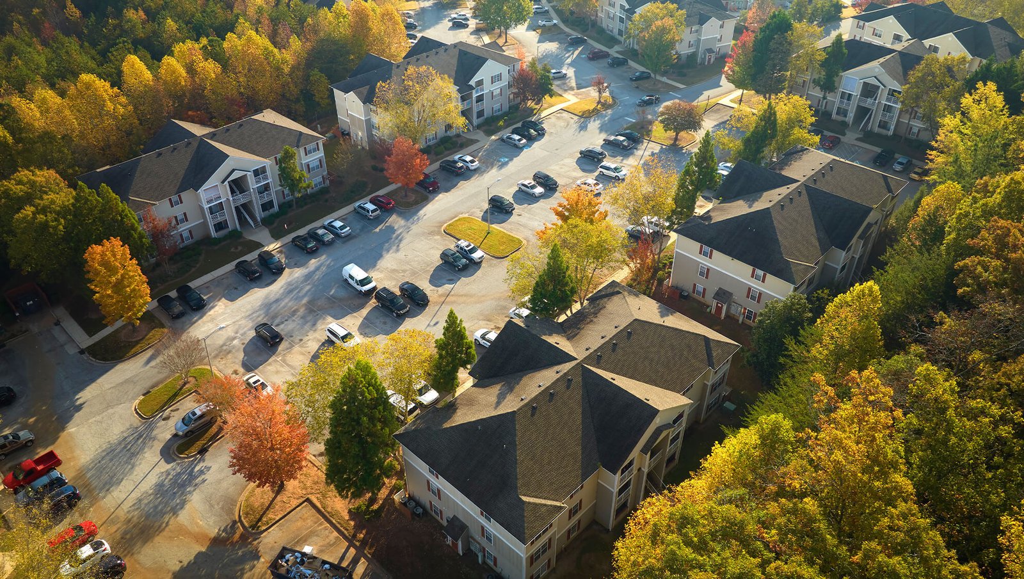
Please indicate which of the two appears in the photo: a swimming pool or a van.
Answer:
van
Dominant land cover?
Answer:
trees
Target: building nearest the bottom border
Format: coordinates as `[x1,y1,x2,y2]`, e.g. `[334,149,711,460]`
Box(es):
[393,280,742,579]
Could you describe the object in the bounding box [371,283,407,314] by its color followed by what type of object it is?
black car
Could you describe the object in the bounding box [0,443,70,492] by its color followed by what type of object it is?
red truck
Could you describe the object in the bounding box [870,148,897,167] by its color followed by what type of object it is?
black vehicle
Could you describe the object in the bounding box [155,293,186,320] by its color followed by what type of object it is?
black car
